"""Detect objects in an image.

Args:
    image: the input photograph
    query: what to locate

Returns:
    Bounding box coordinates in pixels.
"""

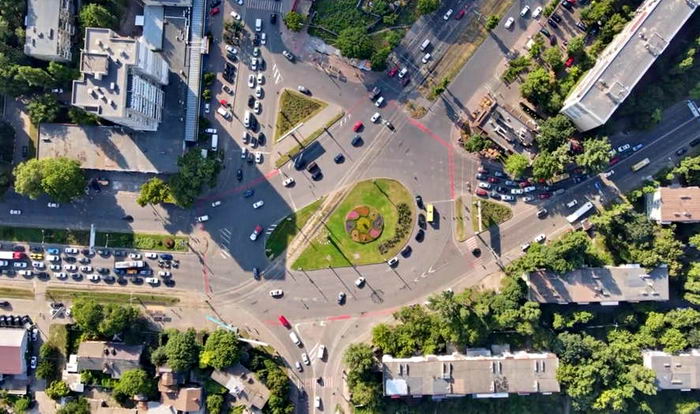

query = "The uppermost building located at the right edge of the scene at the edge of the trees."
[558,0,700,131]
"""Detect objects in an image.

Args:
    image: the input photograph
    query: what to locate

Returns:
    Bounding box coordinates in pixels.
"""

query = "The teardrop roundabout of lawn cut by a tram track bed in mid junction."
[266,180,414,271]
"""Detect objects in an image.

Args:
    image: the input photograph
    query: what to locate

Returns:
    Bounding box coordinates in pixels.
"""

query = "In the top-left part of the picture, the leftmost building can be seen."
[23,0,81,67]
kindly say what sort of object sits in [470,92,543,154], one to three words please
building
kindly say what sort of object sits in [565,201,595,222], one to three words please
bus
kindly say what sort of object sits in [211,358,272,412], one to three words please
house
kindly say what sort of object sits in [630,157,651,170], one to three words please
vehicle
